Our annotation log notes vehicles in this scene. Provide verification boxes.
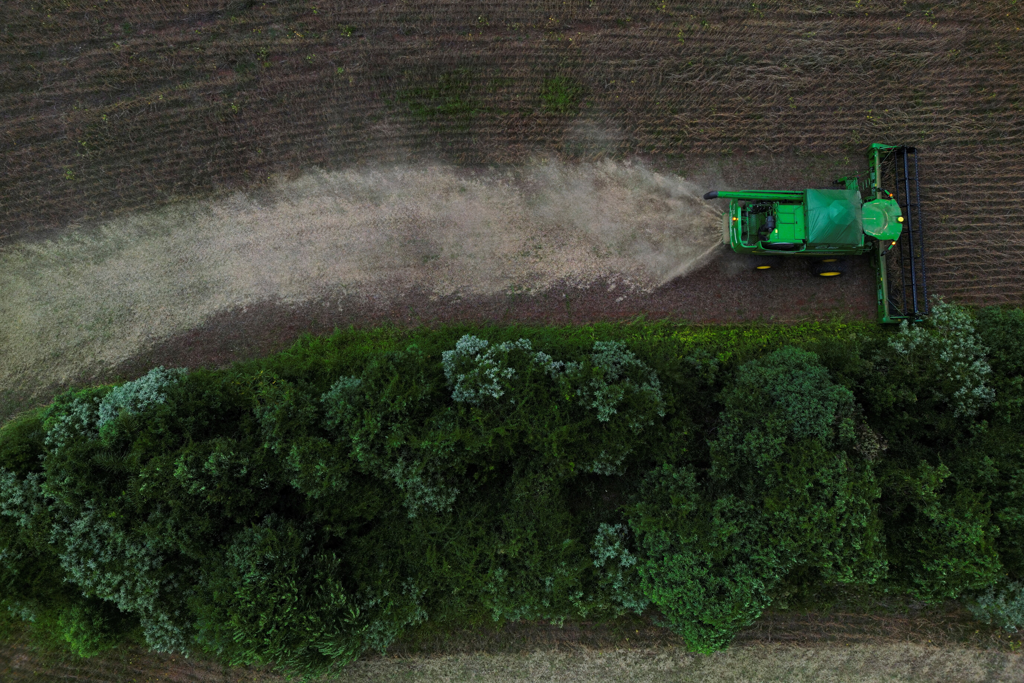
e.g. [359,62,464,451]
[702,143,928,327]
